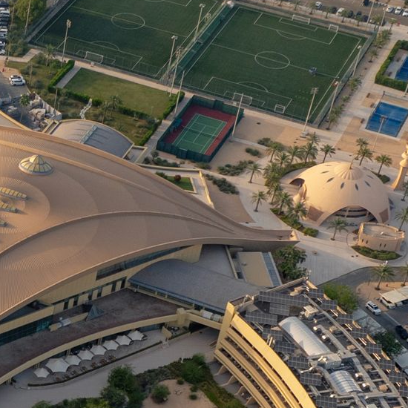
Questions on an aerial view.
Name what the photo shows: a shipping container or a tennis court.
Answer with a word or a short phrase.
tennis court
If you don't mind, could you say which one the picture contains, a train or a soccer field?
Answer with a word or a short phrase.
soccer field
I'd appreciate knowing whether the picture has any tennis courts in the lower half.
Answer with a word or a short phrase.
No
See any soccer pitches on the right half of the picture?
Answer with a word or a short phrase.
Yes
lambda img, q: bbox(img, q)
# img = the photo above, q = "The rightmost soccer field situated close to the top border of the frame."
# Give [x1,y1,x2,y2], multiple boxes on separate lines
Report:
[183,3,370,124]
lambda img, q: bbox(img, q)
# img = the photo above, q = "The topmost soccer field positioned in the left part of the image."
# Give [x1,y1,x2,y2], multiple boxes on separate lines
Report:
[27,0,224,81]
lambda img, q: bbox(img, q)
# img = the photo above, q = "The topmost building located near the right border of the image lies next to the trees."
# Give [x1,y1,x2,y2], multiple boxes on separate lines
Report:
[298,155,395,220]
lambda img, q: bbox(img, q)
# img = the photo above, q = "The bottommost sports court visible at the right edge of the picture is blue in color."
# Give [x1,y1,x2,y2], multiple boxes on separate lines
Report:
[363,100,408,138]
